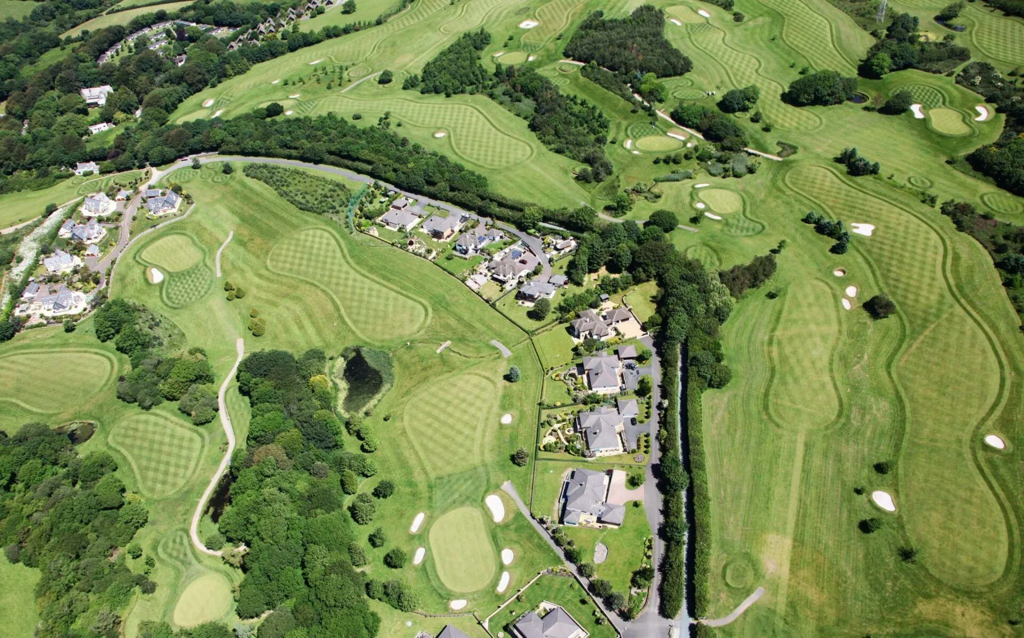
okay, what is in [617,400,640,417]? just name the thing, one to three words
building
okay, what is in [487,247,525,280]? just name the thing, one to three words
house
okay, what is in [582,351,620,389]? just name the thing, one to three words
house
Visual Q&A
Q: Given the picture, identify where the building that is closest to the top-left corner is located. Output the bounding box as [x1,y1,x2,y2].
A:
[80,87,114,106]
